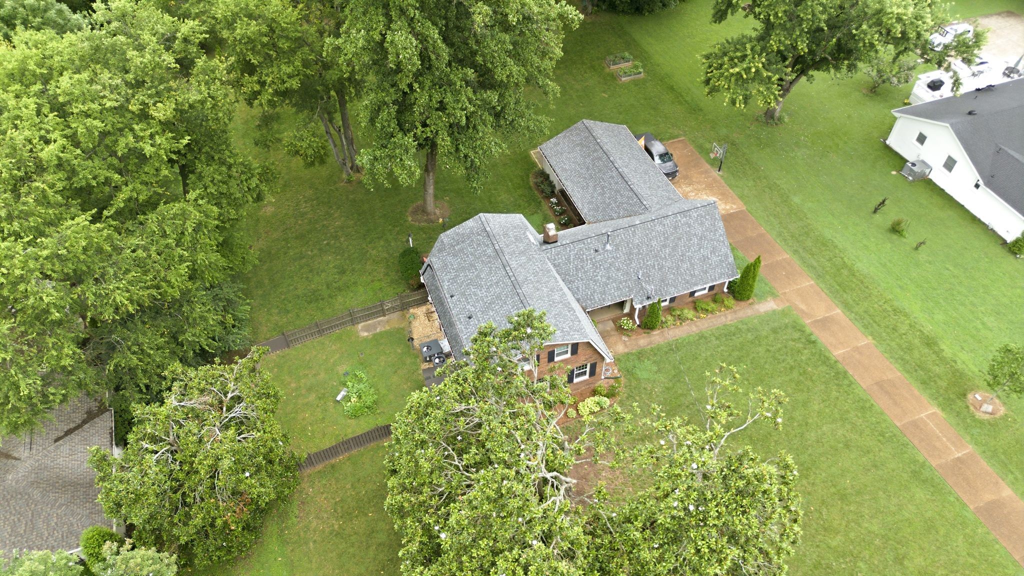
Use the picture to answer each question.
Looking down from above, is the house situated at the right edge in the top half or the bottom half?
top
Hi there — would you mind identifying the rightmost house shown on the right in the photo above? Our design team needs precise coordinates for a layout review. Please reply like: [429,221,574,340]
[887,78,1024,242]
